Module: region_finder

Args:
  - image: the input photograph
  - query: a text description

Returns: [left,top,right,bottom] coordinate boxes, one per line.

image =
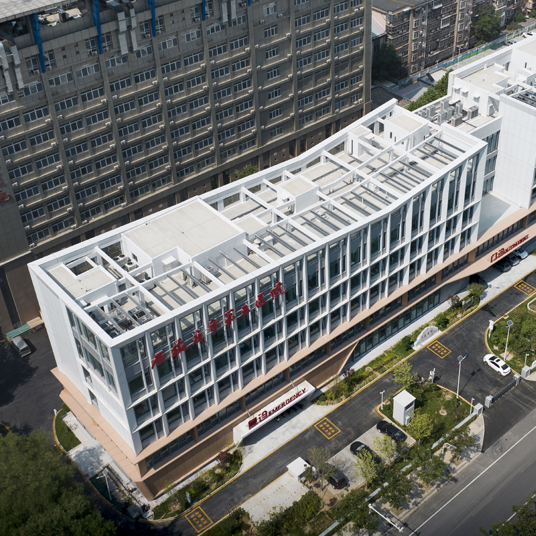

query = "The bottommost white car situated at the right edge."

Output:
[481,357,513,378]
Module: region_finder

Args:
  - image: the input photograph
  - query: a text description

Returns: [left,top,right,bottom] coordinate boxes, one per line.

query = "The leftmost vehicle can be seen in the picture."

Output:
[8,331,34,360]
